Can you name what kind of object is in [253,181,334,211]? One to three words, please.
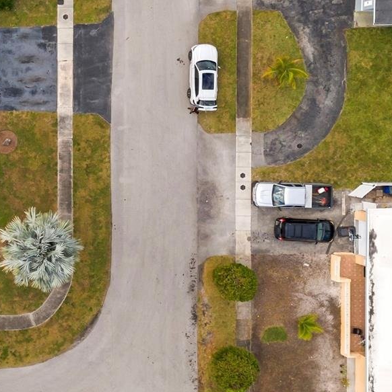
truck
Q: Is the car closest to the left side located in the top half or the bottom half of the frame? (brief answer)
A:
top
